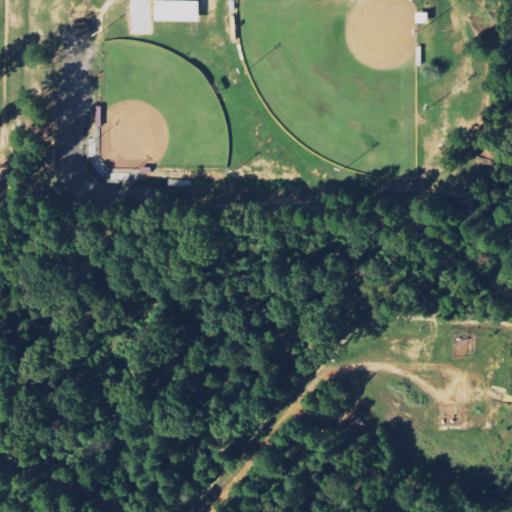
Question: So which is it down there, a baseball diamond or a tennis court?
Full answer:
It is a baseball diamond that can be seen here.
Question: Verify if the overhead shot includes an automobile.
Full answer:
No, no automobile is visible in the view.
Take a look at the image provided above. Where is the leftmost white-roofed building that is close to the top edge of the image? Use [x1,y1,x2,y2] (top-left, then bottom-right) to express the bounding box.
[154,0,199,22]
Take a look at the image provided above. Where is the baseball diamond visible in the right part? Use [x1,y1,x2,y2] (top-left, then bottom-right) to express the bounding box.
[237,0,416,179]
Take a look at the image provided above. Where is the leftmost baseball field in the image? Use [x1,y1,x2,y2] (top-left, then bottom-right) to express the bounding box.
[100,37,229,168]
